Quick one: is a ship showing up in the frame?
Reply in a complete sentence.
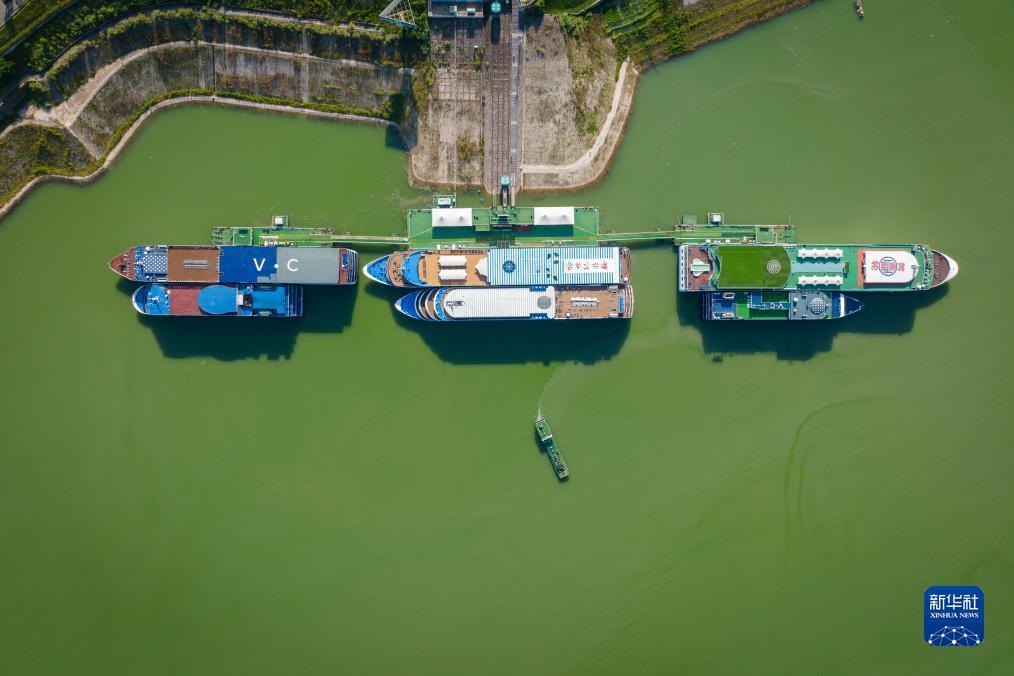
Yes, the image includes a ship.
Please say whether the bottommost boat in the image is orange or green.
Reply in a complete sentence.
The bottommost boat looks green in the image.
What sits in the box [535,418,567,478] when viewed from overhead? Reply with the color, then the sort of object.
green boat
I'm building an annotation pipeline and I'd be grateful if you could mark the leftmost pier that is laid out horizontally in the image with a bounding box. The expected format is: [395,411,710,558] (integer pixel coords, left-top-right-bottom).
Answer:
[212,227,334,245]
